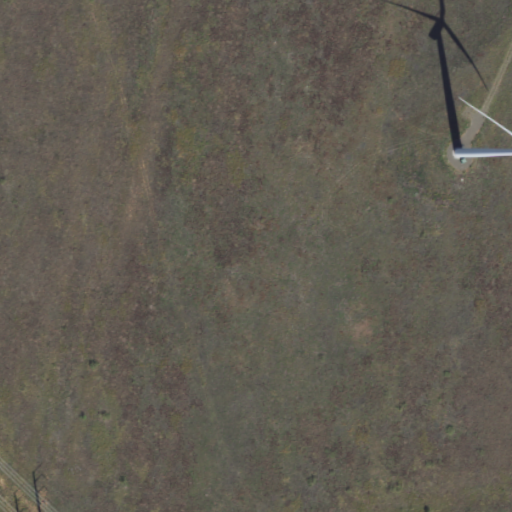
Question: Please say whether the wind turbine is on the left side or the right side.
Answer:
right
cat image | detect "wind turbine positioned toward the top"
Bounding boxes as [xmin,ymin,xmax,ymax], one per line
[454,102,512,159]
